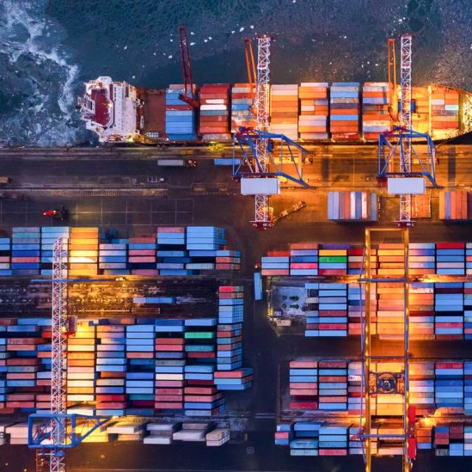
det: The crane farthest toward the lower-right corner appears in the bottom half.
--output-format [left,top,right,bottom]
[356,228,424,472]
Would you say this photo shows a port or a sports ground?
port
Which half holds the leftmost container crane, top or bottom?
bottom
